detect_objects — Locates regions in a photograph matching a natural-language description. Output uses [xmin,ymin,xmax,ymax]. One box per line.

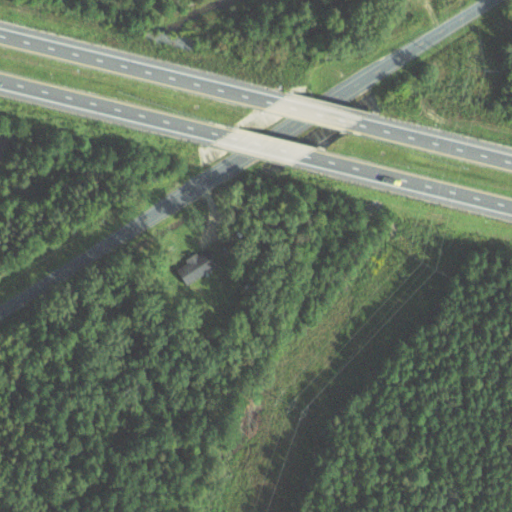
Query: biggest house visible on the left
[178,254,214,286]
